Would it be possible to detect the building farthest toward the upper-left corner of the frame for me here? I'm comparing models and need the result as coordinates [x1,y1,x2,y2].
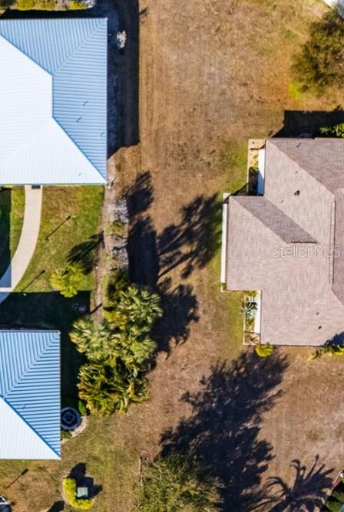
[0,17,108,185]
